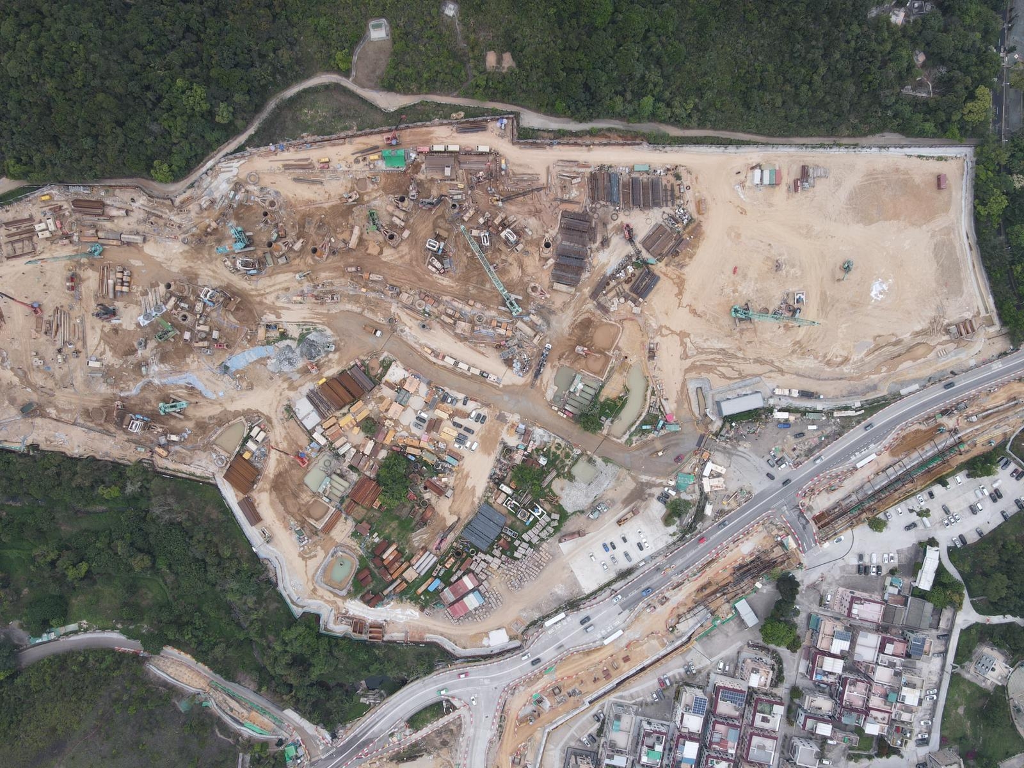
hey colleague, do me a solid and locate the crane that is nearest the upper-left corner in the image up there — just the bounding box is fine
[24,240,105,267]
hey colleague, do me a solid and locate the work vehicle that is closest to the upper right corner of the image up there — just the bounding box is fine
[838,255,858,281]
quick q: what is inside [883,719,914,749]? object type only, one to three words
house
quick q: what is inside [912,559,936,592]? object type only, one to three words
shed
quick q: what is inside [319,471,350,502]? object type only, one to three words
storage tank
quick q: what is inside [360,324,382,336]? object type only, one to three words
vehicle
